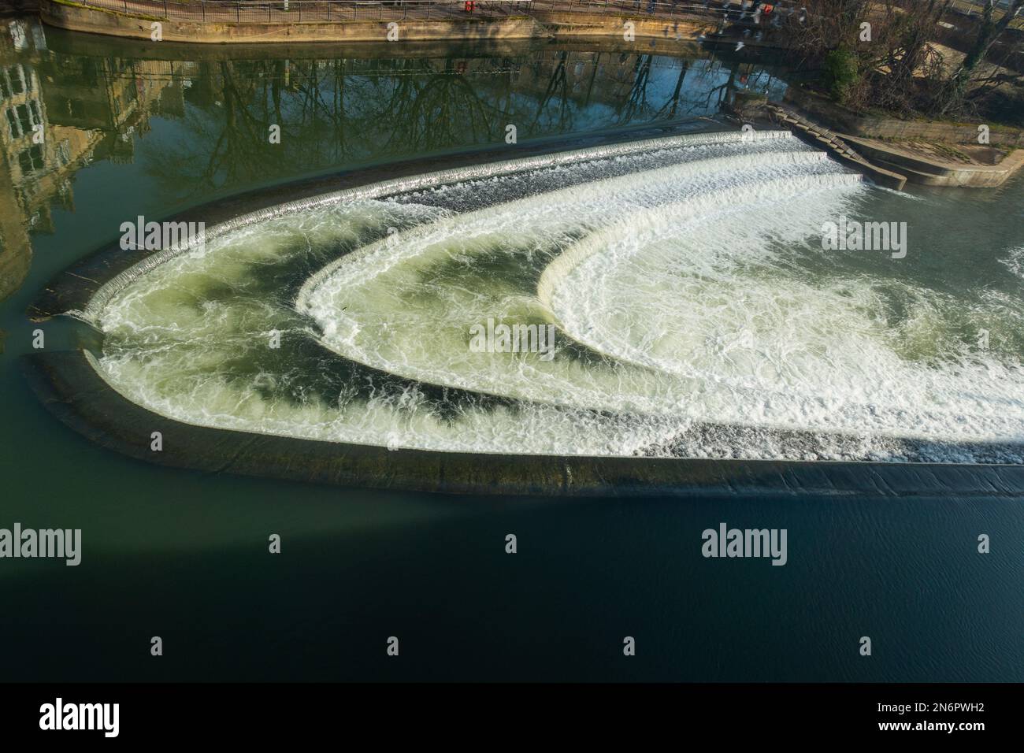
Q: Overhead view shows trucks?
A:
No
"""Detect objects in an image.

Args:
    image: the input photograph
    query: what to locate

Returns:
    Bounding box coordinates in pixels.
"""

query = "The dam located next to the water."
[21,114,1024,498]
